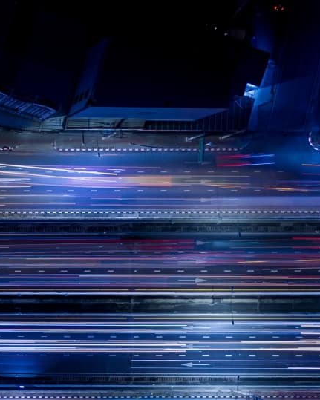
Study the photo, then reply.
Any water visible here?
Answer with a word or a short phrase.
No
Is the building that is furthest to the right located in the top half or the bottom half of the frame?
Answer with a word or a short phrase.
top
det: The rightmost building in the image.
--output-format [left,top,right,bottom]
[252,0,304,113]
